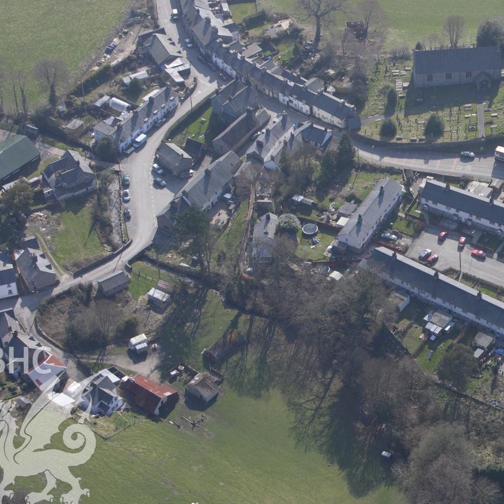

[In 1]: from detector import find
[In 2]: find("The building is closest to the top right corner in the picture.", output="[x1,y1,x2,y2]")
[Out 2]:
[413,46,502,86]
